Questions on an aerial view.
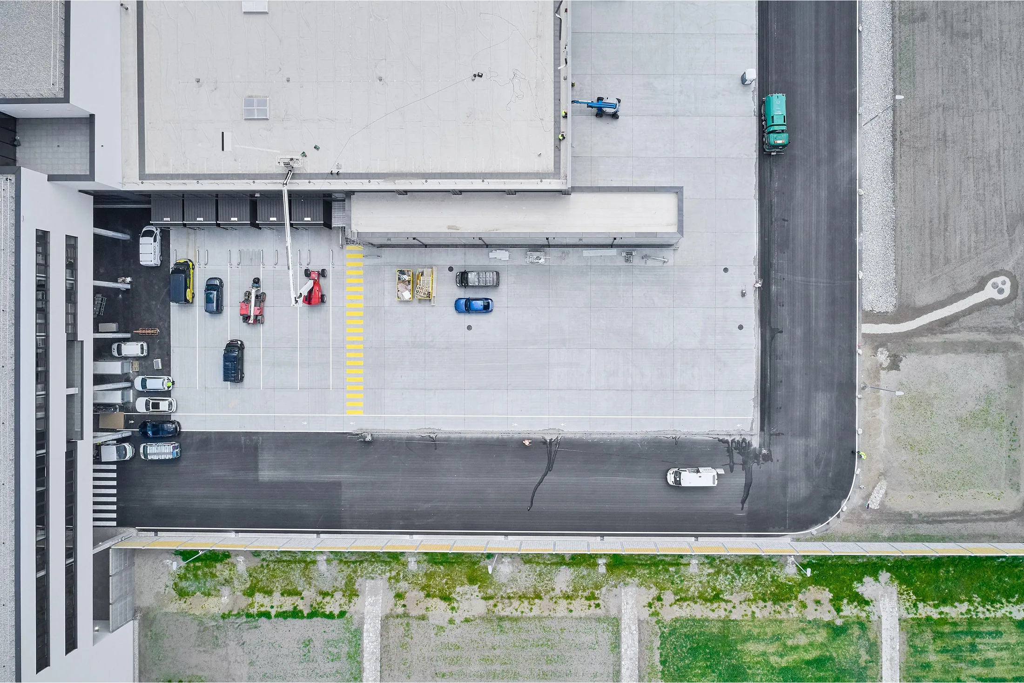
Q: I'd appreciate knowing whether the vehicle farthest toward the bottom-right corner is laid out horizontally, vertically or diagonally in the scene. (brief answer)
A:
horizontally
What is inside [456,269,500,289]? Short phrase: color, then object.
gray vehicle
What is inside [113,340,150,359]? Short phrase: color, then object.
white car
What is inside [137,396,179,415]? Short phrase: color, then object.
white car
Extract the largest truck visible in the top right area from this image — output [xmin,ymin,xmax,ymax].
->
[759,94,787,157]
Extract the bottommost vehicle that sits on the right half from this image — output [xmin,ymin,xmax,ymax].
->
[666,467,725,488]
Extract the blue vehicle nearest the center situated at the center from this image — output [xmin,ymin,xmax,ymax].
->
[455,296,494,315]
